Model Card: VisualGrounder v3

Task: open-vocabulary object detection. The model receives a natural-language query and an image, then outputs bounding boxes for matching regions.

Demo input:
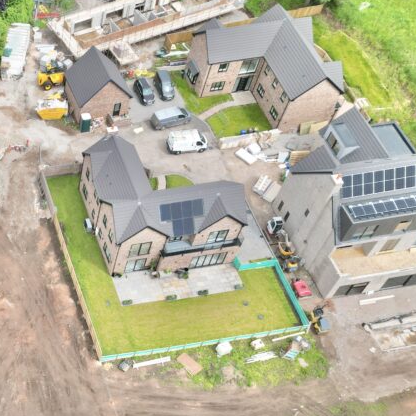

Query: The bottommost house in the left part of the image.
[80,142,252,275]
